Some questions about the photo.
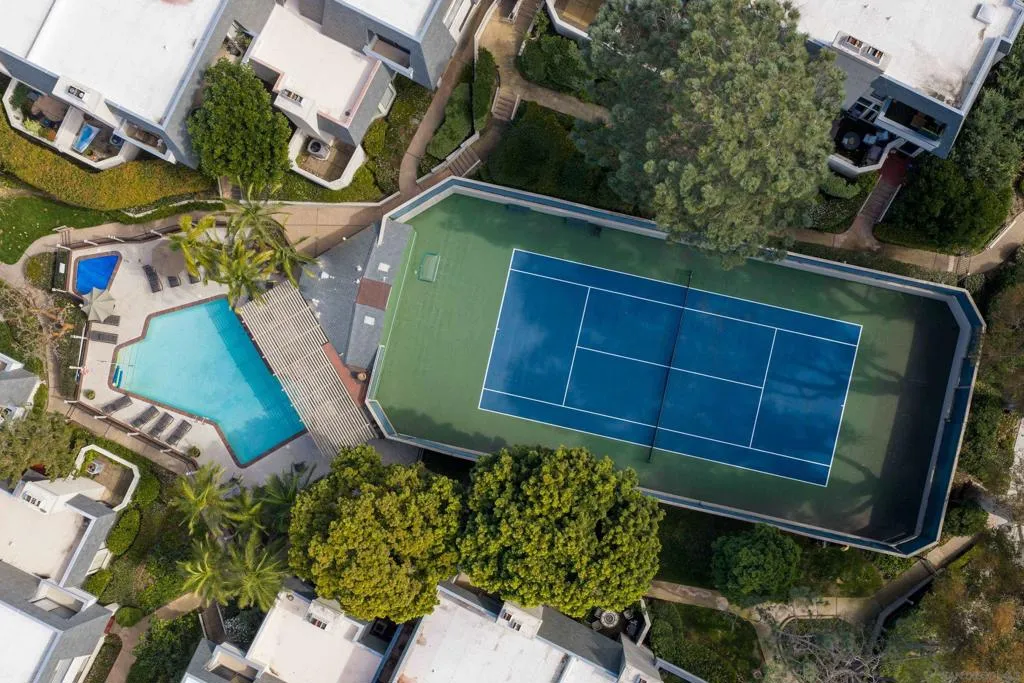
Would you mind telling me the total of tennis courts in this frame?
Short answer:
1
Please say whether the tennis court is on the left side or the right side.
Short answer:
right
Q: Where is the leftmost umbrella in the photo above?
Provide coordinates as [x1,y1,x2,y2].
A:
[76,284,117,321]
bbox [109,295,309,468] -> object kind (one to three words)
swimming pool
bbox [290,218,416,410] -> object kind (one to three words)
building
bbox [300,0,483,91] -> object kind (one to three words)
house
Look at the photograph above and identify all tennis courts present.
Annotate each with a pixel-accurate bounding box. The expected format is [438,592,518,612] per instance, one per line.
[377,195,960,545]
